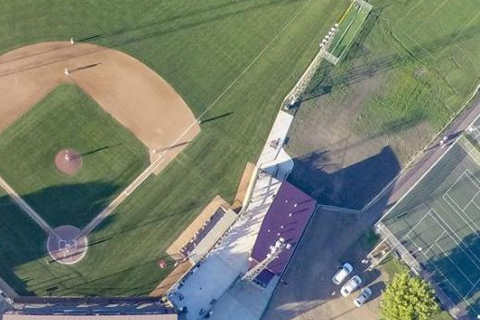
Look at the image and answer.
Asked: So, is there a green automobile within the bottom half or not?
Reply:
No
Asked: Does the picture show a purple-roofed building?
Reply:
Yes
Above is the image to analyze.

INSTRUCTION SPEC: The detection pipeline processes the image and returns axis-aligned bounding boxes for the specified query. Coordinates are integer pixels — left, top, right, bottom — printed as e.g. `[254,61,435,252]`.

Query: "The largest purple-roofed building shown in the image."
[241,181,317,279]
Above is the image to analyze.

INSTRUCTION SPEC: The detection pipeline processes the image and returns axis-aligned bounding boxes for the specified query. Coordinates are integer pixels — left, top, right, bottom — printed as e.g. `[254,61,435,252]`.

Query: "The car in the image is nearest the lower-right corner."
[354,288,372,309]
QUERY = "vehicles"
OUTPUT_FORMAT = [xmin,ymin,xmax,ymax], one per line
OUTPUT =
[354,288,372,309]
[341,276,361,298]
[332,264,353,286]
